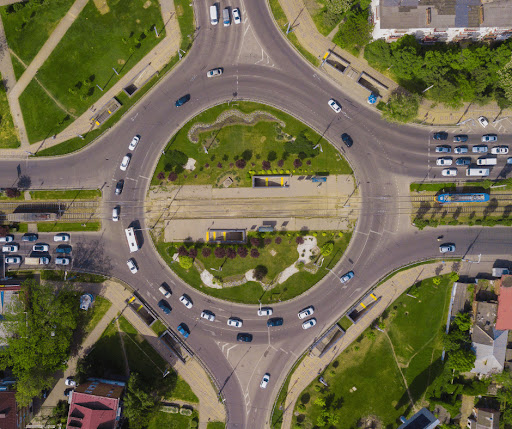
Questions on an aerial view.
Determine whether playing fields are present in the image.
No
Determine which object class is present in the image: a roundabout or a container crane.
roundabout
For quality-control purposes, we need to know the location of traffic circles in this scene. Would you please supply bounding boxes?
[113,66,395,340]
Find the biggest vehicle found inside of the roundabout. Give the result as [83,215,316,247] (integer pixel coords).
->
[124,226,140,254]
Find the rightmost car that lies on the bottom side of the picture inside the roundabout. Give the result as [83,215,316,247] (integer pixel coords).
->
[339,270,354,284]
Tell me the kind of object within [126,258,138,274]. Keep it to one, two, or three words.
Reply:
vehicle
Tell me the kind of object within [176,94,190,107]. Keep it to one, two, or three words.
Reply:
vehicle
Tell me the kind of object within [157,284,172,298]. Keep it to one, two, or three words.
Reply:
car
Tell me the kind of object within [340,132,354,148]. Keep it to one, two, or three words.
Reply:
car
